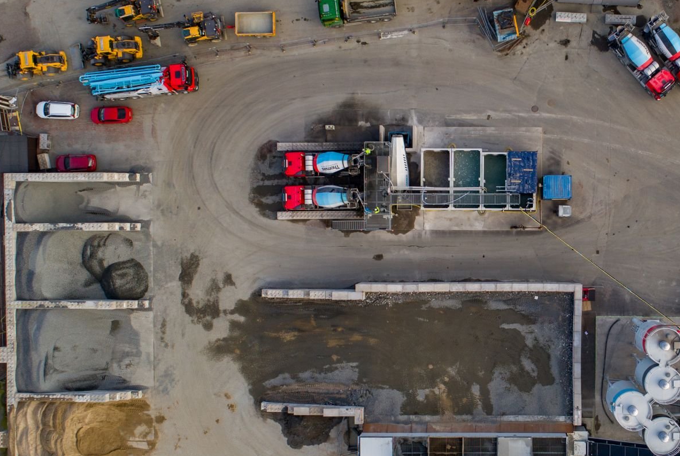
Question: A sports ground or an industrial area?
industrial area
